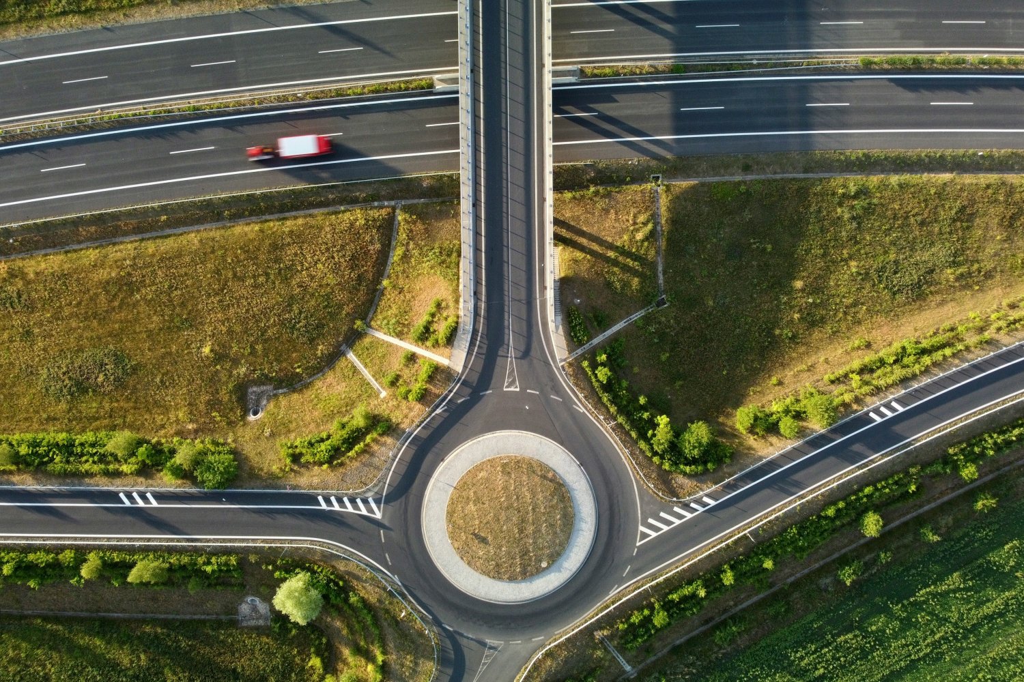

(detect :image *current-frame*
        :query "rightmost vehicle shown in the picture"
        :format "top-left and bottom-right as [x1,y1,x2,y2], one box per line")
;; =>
[278,134,341,162]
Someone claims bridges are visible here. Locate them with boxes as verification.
[458,0,559,362]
